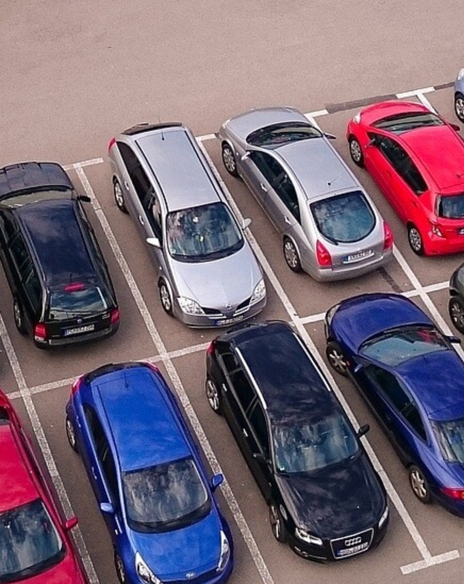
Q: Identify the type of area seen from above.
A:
parking lot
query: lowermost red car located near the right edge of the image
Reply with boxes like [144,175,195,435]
[346,99,464,254]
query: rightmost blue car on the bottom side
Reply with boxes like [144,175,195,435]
[319,289,464,520]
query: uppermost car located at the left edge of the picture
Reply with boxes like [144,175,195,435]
[0,164,127,356]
